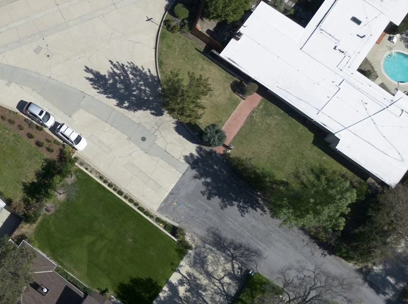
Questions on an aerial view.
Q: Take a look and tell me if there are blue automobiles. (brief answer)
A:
No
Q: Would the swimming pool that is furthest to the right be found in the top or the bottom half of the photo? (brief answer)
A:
top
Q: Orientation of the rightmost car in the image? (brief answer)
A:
on a diagonal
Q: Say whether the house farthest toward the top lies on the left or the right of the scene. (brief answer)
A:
right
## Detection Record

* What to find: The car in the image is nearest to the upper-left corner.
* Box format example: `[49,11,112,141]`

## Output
[22,98,58,130]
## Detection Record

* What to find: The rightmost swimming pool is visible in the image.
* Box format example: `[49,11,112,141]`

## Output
[379,46,408,86]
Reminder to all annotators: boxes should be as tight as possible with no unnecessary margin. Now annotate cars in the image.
[22,98,58,130]
[54,120,89,151]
